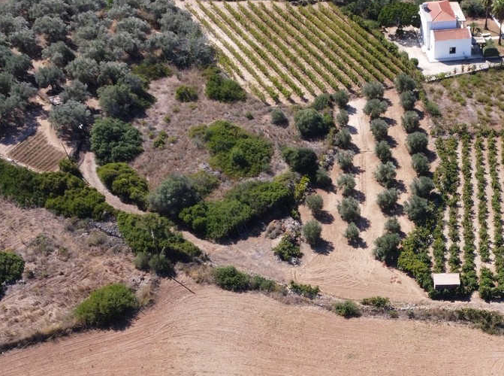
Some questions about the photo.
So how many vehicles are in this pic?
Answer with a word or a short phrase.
0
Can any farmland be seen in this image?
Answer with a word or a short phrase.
Yes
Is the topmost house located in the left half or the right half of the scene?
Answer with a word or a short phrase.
right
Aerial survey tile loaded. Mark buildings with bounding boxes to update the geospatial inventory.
[411,0,475,59]
[432,268,462,290]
